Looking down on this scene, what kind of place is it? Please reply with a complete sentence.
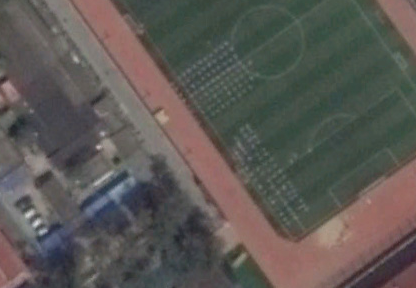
The picture captures a sports ground.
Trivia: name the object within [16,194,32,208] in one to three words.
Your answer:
vehicle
